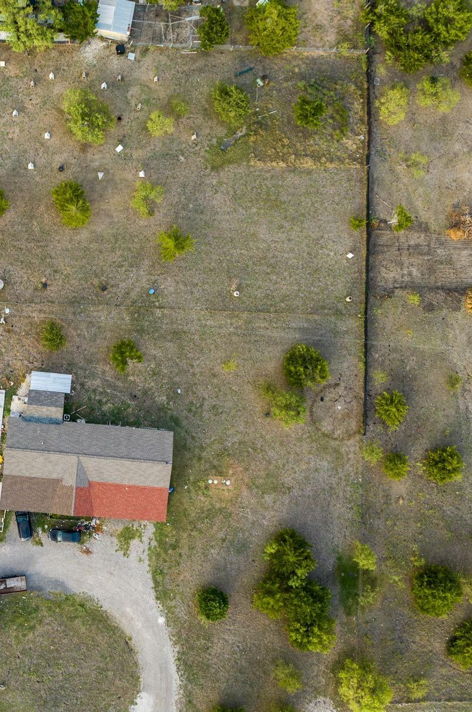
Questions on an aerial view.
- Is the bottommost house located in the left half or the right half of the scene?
left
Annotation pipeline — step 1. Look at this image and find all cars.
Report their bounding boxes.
[14,512,31,543]
[48,528,81,543]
